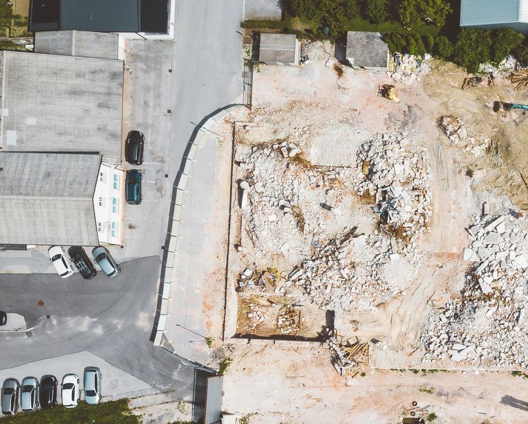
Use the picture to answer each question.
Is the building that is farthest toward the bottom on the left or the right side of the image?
left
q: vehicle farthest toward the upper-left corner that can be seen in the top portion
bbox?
[124,130,145,165]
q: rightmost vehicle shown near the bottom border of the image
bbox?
[82,367,103,403]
